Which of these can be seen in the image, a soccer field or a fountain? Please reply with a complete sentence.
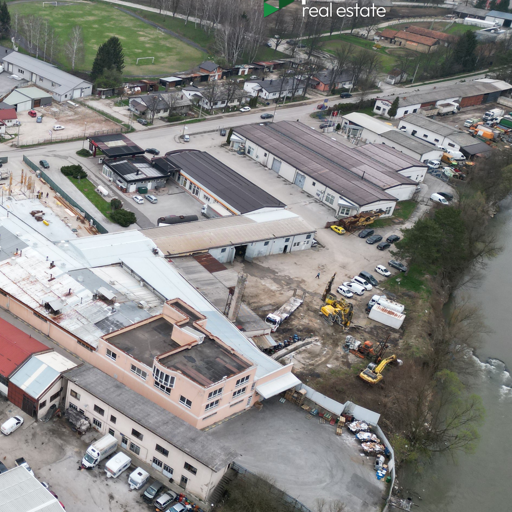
The image shows a soccer field.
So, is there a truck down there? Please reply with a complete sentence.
Yes, there is a truck in the image.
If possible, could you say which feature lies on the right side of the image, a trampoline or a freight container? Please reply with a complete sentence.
What appears on the right side of the image is a freight container.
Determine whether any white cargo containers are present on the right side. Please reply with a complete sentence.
Yes, a white cargo container appears on the right side.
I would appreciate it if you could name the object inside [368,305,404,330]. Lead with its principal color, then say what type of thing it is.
white shipping container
